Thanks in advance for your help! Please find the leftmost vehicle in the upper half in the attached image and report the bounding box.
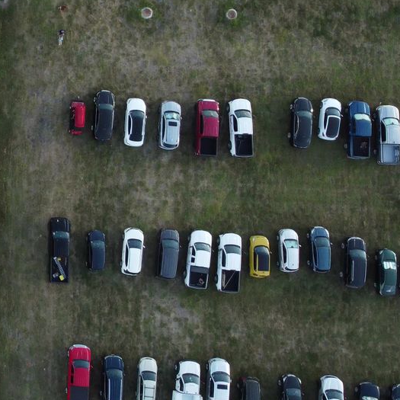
[67,100,88,137]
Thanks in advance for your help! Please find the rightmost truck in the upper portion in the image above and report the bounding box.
[373,105,400,165]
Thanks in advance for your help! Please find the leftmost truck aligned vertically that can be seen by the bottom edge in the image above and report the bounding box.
[65,343,94,400]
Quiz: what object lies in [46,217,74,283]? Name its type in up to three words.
truck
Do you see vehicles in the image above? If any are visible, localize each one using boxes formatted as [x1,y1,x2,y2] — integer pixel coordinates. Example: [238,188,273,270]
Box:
[237,375,265,400]
[340,236,370,289]
[317,374,346,400]
[90,90,119,140]
[183,229,215,290]
[155,227,182,280]
[246,235,273,279]
[46,217,74,283]
[226,99,256,158]
[373,105,400,165]
[65,343,94,400]
[305,225,335,273]
[355,382,383,400]
[193,99,223,158]
[119,227,146,276]
[67,100,88,137]
[315,98,344,142]
[100,354,127,400]
[85,230,110,270]
[156,101,185,150]
[204,356,233,400]
[343,101,374,161]
[373,248,400,296]
[214,232,245,294]
[175,360,204,400]
[274,229,301,273]
[133,356,161,400]
[121,98,149,146]
[288,98,315,148]
[276,373,306,400]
